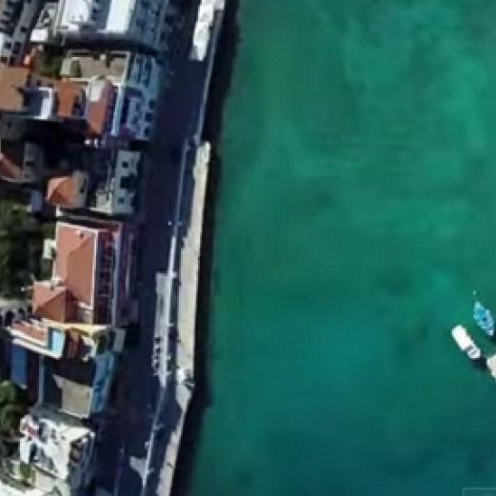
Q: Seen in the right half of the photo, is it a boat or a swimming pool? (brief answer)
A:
boat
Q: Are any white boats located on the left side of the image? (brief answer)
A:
No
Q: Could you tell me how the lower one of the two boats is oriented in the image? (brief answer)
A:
at an angle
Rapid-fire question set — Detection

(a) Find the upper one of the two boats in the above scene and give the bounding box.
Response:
[474,302,493,337]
